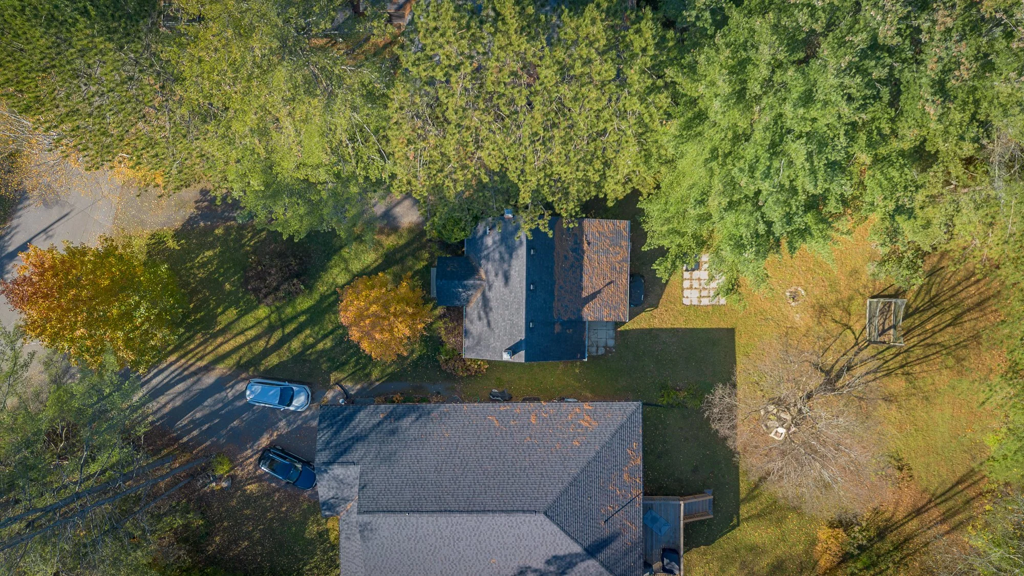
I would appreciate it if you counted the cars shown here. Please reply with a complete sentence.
The photo contains 2 cars.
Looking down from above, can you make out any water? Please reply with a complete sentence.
No, the scene doesn't show any water.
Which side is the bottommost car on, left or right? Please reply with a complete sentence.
It is on the left.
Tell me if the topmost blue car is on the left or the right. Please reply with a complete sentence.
You can find the topmost blue car on the left side of the picture.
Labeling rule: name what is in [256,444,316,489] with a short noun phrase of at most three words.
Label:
car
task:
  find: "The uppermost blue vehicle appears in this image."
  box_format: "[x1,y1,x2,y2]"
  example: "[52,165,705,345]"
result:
[247,379,313,412]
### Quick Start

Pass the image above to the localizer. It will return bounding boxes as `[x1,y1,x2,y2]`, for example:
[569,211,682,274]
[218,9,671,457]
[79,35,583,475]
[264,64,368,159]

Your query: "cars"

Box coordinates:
[247,379,313,412]
[256,444,316,489]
